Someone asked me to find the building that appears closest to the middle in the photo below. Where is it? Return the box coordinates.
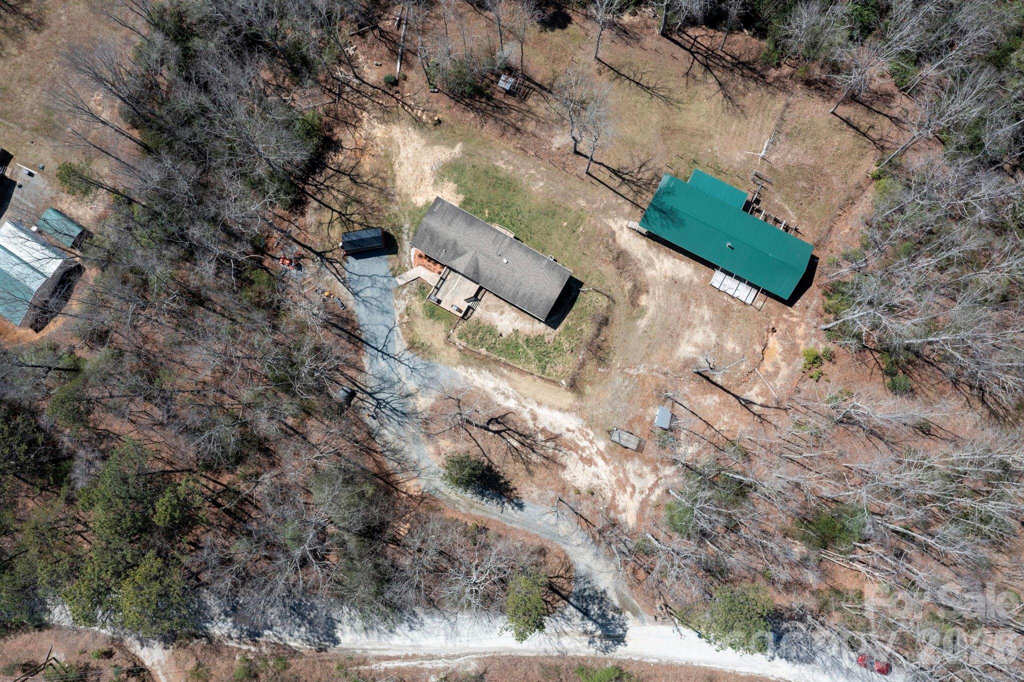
[410,197,572,322]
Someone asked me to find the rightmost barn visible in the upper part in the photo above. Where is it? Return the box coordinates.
[638,169,814,300]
